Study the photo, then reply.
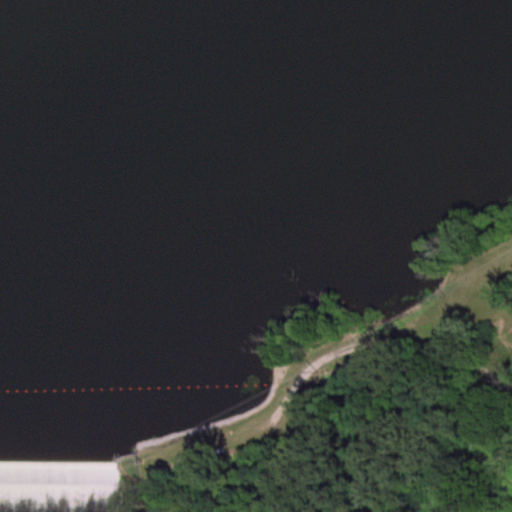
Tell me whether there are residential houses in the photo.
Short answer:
No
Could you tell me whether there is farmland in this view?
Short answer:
No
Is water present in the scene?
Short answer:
Yes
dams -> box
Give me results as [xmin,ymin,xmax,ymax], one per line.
[0,460,118,512]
